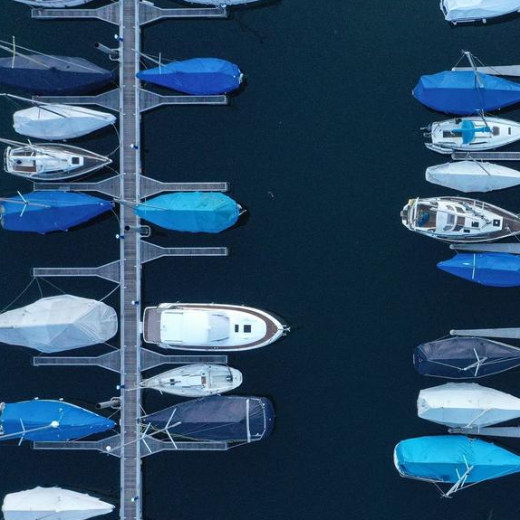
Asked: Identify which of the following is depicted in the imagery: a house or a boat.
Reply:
boat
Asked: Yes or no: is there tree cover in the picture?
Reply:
No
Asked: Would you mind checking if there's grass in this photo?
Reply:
No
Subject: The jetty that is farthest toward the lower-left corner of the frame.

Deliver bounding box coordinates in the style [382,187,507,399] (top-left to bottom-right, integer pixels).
[32,435,120,458]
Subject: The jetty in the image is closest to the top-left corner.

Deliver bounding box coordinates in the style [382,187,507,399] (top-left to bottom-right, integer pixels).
[32,1,120,25]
